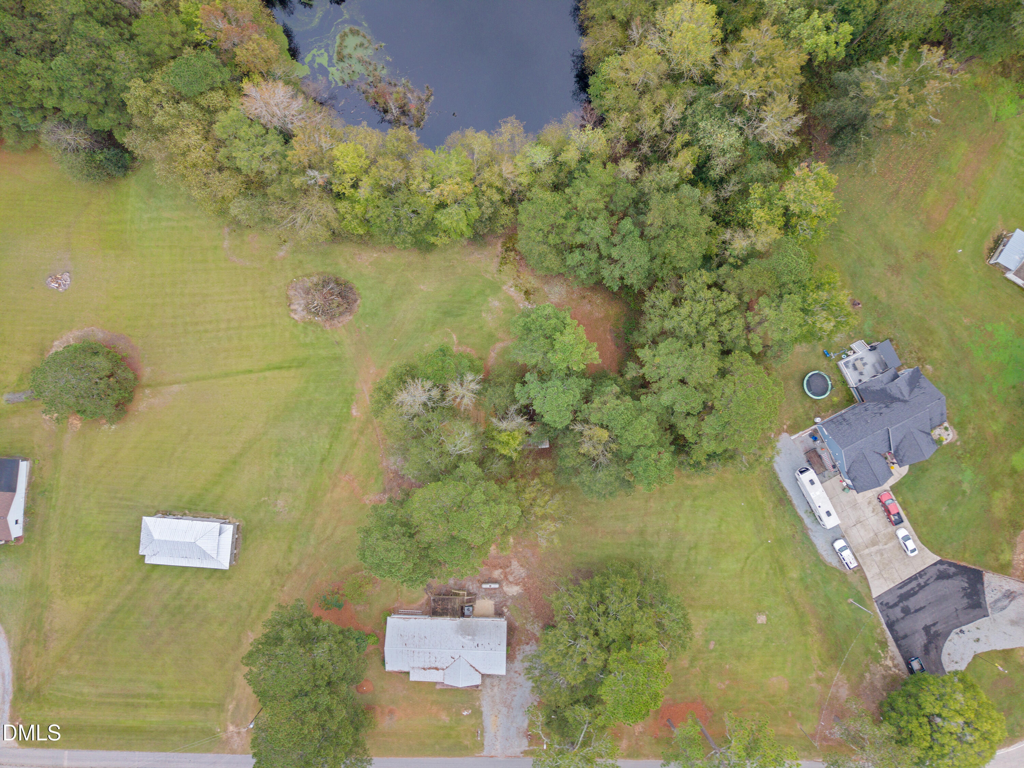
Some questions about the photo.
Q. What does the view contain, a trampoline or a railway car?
trampoline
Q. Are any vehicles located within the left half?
No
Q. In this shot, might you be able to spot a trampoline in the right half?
Yes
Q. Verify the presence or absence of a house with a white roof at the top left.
No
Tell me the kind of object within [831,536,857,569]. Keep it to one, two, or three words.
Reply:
car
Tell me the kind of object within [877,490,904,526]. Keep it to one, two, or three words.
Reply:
truck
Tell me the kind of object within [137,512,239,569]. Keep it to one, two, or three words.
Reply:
barn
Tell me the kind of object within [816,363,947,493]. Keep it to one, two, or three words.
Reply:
house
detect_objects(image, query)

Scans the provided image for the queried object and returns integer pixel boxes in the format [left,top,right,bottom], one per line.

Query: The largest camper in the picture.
[793,463,842,530]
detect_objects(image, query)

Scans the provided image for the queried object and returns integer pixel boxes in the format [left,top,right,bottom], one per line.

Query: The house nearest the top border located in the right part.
[987,228,1024,288]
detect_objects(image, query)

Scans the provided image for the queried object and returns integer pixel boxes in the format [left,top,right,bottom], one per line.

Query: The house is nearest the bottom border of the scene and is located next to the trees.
[385,614,507,690]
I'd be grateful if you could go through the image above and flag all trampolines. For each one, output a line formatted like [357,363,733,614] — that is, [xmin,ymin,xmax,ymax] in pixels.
[802,371,833,399]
